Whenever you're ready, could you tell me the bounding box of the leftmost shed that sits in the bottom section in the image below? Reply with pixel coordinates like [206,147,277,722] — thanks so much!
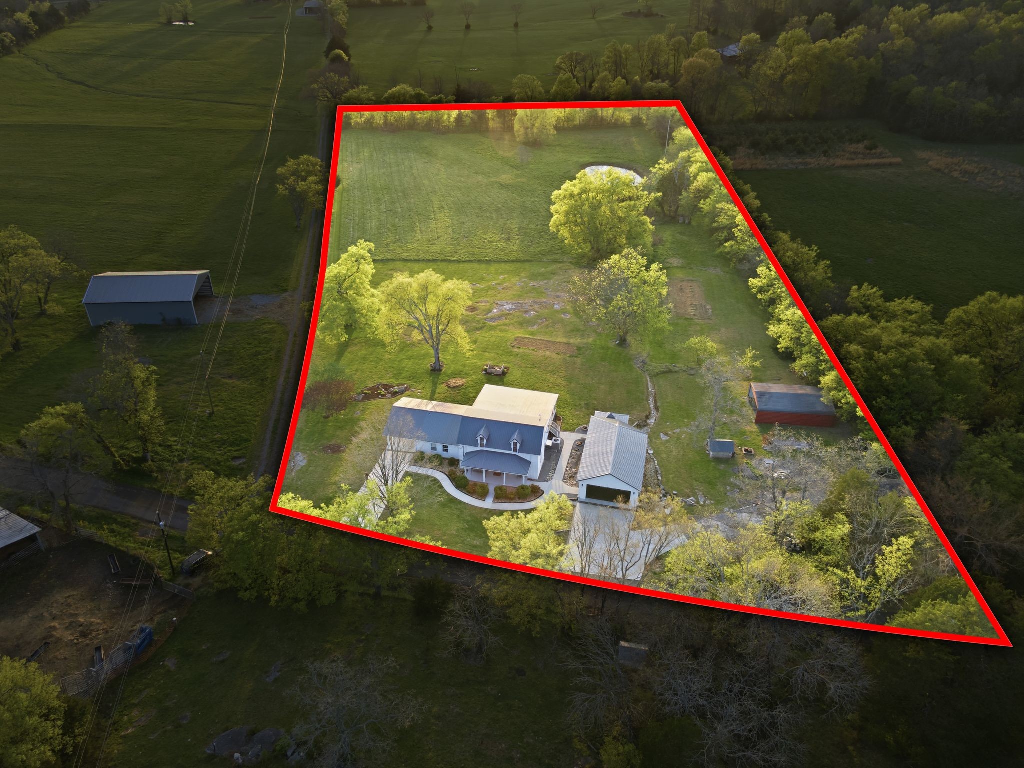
[0,501,48,565]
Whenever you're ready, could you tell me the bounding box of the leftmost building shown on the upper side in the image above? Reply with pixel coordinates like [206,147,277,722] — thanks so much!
[82,272,218,327]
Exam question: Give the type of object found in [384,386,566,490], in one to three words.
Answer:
house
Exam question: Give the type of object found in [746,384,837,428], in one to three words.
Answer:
barn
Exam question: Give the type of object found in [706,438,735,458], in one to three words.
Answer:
shed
